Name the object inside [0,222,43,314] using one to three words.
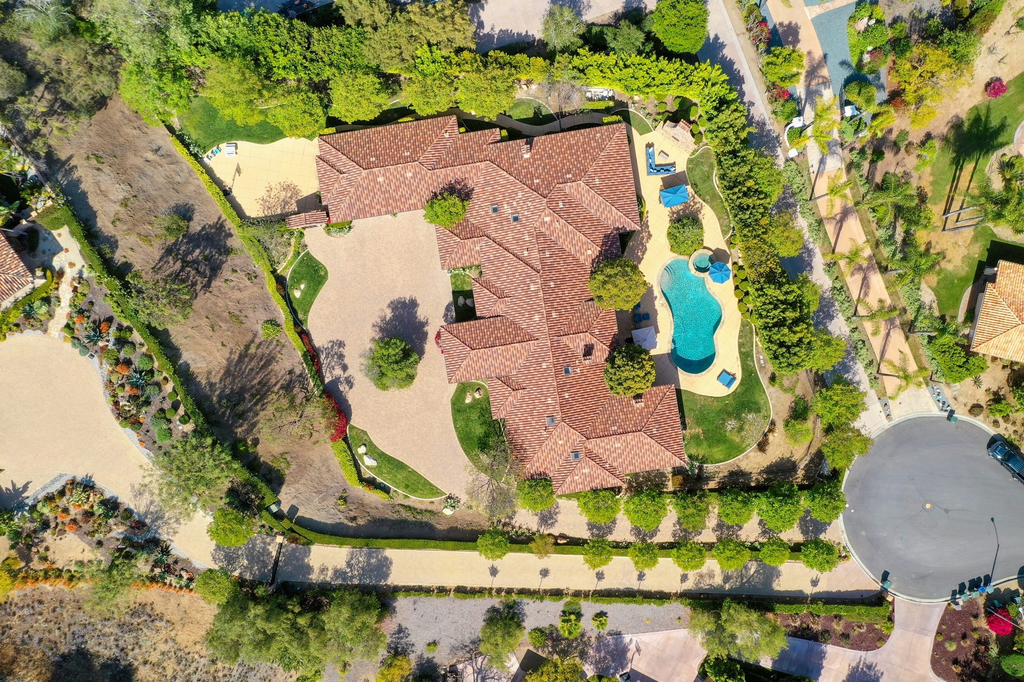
house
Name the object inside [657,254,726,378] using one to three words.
swimming pool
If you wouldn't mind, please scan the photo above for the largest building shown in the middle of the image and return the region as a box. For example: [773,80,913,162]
[315,115,687,496]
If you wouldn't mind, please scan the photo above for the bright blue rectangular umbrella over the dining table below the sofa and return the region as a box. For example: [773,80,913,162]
[659,184,689,208]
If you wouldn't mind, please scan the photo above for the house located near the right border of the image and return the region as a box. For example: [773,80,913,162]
[958,259,1024,363]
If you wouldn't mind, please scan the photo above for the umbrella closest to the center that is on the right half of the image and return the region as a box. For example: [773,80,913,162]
[632,327,657,349]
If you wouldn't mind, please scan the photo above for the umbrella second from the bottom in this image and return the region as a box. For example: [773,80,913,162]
[708,262,730,284]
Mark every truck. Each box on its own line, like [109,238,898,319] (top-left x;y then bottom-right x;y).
[993,445,1024,484]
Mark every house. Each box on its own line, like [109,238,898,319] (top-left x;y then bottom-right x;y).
[0,222,43,314]
[958,259,1024,363]
[315,115,687,496]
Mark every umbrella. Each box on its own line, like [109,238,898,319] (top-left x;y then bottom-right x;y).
[708,262,730,284]
[632,327,657,349]
[659,184,689,208]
